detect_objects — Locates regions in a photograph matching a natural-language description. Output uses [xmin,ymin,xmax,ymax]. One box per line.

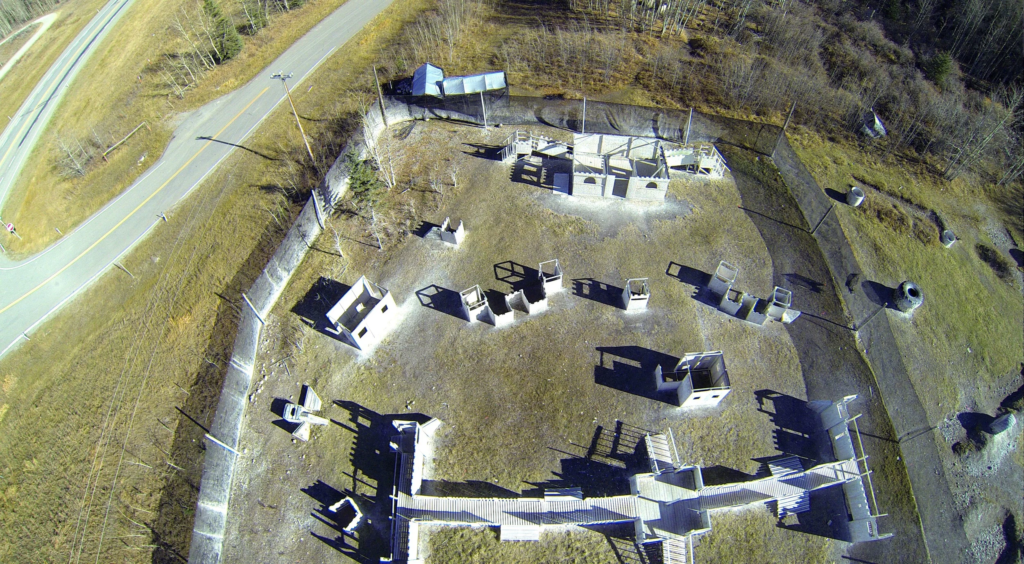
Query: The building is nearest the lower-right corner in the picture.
[654,355,731,408]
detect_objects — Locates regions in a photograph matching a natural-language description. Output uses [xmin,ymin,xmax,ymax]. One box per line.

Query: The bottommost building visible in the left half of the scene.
[325,271,398,351]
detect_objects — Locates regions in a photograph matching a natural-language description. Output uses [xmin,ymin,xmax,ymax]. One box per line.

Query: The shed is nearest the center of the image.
[440,218,465,245]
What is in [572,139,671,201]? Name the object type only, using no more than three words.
house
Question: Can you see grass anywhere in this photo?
Yes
